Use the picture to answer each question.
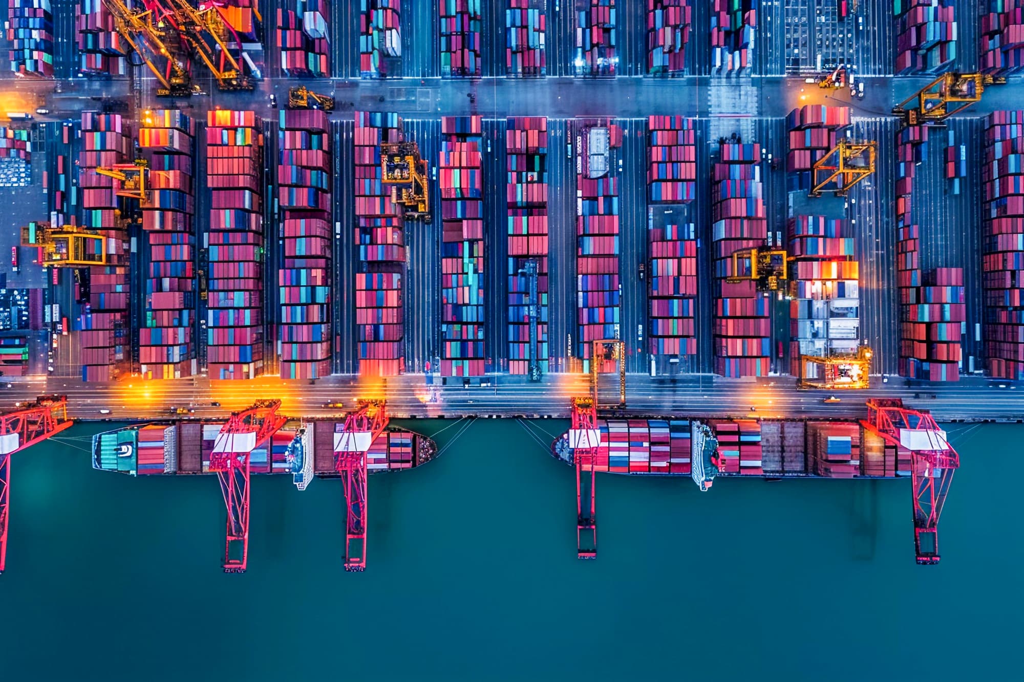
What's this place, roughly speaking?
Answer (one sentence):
It's a port.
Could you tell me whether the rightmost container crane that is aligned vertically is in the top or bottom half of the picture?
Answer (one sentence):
The rightmost container crane that is aligned vertically is in the bottom half of the image.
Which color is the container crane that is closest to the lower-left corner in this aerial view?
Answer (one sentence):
The container crane that is closest to the lower-left corner looks red in the image.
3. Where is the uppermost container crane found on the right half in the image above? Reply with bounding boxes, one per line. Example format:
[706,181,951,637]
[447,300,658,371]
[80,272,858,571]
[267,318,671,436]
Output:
[894,68,982,122]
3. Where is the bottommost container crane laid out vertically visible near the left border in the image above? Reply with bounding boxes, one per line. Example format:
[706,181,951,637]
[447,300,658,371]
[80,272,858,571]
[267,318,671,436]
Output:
[0,399,74,575]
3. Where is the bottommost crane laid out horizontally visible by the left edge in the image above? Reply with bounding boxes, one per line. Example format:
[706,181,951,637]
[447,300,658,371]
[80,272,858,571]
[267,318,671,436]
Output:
[20,227,137,270]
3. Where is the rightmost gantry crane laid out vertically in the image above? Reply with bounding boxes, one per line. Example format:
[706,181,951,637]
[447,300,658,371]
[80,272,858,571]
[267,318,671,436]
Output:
[871,399,956,570]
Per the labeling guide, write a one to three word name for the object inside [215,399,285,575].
container crane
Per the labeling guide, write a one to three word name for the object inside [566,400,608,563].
container crane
